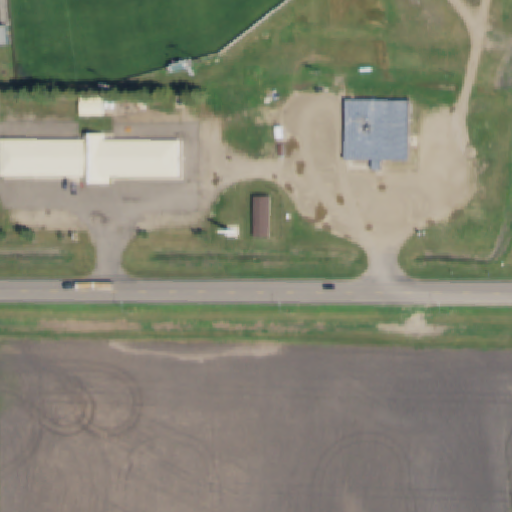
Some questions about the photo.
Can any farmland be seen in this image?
Yes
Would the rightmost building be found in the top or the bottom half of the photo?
top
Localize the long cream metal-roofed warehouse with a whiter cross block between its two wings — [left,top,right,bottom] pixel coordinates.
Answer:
[0,133,183,186]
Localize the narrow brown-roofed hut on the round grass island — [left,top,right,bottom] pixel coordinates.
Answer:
[254,199,270,240]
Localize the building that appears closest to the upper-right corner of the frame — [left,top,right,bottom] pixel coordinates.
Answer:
[344,98,410,169]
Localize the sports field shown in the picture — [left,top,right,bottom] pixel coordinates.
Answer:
[10,0,288,82]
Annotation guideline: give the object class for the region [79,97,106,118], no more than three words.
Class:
shed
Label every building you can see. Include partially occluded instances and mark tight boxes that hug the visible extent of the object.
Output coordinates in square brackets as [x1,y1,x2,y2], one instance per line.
[274,125,284,141]
[344,98,410,169]
[0,26,10,46]
[254,199,270,240]
[79,97,106,118]
[0,133,183,186]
